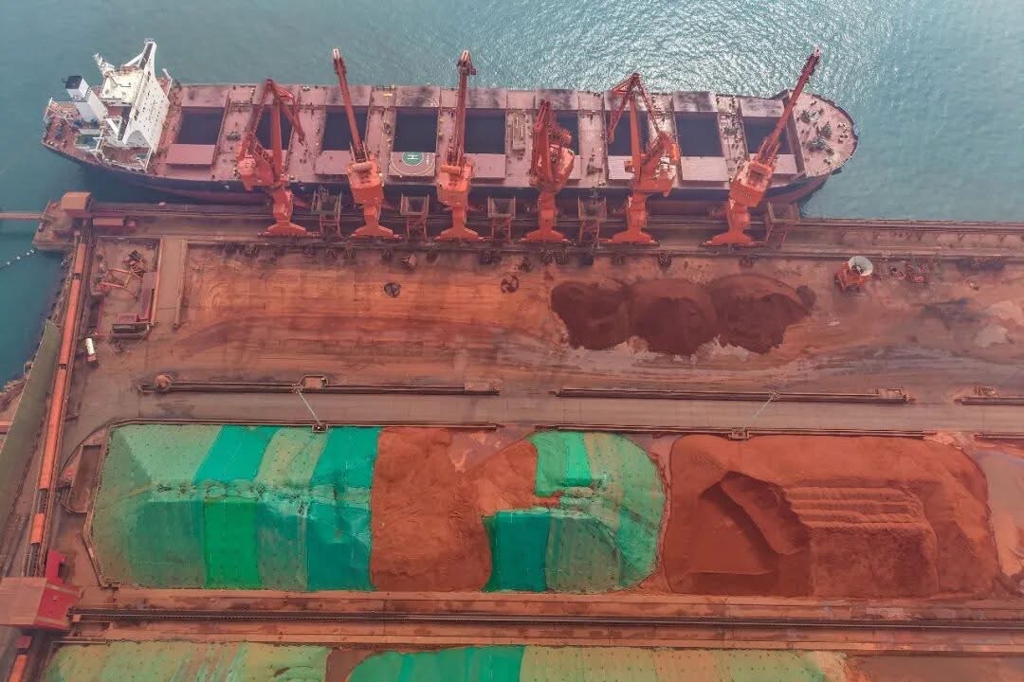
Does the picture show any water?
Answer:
Yes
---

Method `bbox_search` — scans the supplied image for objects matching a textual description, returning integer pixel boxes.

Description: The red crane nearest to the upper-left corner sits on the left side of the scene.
[220,76,312,236]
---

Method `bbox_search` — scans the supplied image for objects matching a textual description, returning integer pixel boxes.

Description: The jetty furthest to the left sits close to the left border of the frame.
[30,202,90,252]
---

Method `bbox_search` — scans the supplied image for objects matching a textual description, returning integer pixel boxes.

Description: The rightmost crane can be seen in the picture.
[702,51,822,246]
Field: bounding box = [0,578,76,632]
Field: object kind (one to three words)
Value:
house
